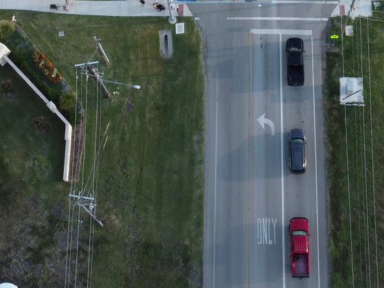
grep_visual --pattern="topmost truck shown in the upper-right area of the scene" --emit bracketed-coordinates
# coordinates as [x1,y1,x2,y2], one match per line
[284,38,306,88]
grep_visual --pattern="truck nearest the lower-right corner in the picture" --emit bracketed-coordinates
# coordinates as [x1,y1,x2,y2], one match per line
[287,217,311,278]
